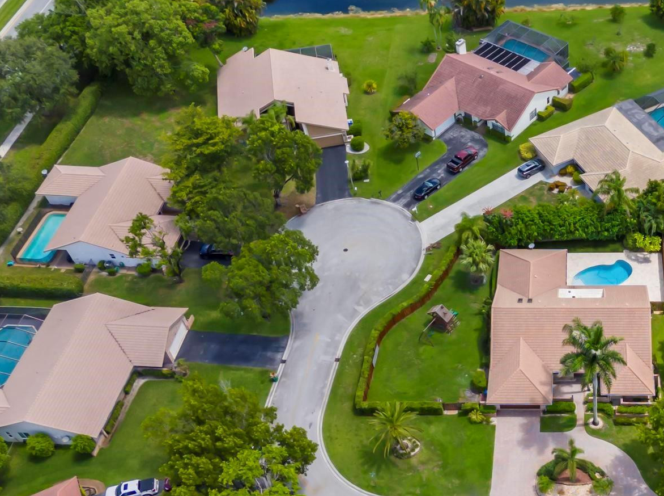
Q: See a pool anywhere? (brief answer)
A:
Yes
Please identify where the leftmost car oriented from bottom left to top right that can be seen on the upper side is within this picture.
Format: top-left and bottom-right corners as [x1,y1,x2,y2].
[414,180,441,200]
